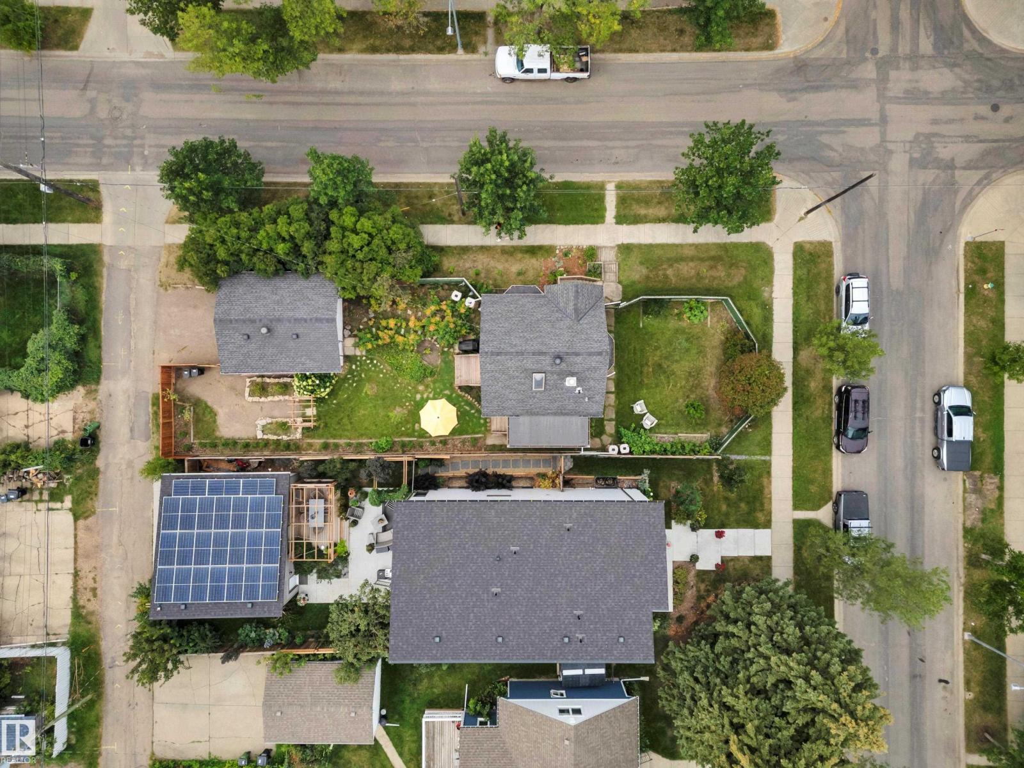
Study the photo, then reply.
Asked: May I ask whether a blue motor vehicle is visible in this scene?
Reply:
No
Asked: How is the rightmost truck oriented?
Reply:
vertically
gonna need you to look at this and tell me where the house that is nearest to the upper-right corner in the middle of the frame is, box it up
[478,275,620,454]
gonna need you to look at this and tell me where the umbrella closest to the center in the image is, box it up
[419,398,459,437]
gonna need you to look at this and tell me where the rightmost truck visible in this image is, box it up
[932,386,975,472]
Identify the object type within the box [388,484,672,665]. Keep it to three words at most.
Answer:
house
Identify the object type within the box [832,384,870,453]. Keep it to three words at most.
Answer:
car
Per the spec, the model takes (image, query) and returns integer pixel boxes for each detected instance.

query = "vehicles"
[832,384,870,453]
[832,489,874,574]
[833,267,871,334]
[932,386,975,472]
[496,44,589,83]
